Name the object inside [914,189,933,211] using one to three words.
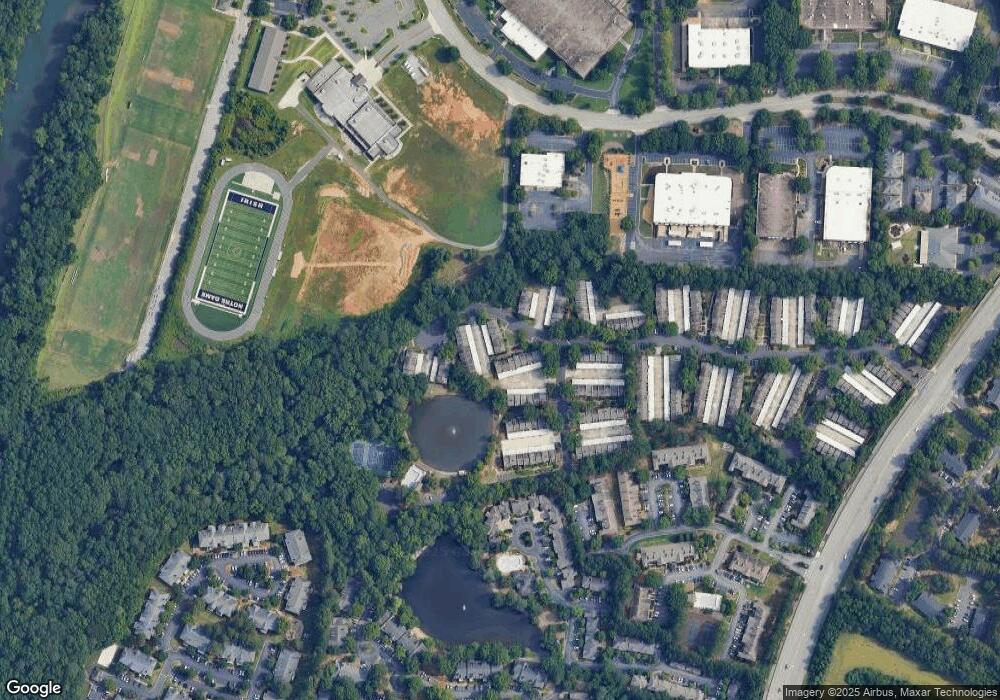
building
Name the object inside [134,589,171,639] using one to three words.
building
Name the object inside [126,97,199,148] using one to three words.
sports field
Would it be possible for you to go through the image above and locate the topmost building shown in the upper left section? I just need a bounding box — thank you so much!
[247,25,286,93]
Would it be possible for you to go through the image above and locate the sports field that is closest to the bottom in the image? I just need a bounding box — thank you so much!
[54,262,155,350]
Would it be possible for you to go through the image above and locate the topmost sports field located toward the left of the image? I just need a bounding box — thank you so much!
[138,6,229,111]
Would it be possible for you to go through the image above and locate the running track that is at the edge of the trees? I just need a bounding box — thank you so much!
[184,163,290,341]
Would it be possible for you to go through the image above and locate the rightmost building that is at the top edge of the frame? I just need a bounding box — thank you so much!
[899,0,979,51]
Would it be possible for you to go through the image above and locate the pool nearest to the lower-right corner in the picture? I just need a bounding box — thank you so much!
[497,553,527,575]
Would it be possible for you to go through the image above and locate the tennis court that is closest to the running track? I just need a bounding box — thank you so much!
[353,440,401,471]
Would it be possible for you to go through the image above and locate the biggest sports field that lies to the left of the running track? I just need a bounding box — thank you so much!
[82,131,188,268]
